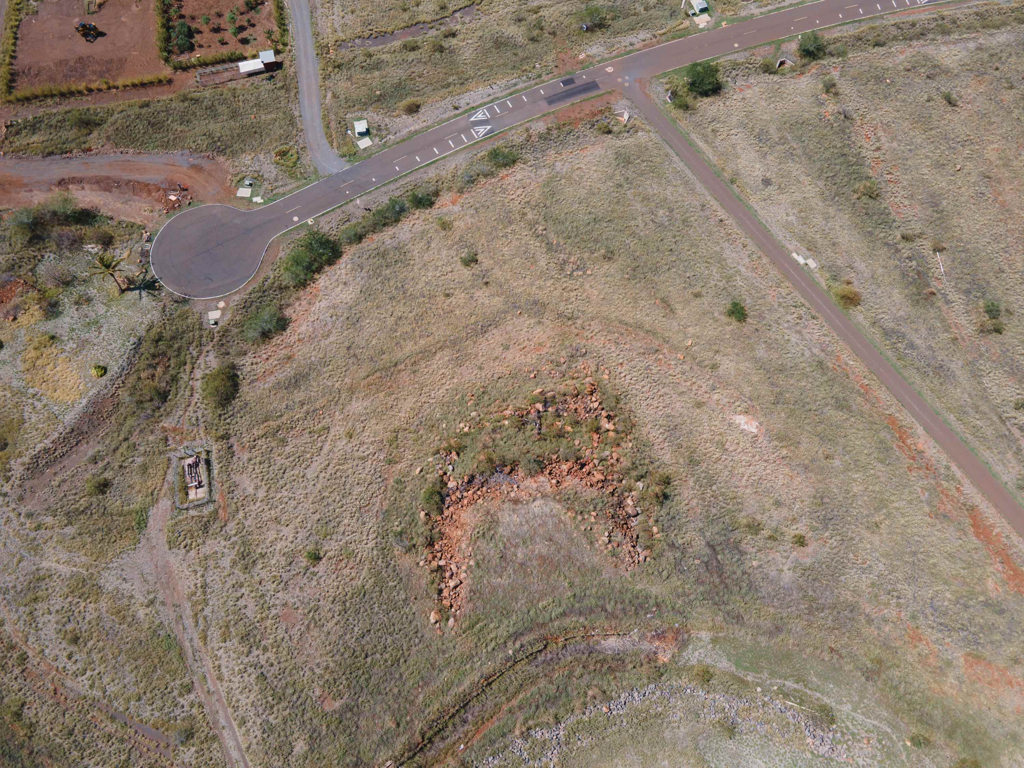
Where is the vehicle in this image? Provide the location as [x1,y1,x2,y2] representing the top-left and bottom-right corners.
[73,11,100,44]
